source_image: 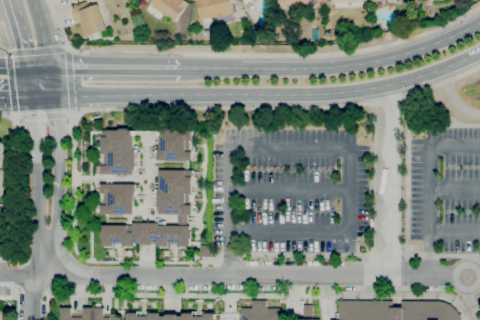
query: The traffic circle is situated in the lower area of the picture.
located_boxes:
[452,262,480,294]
